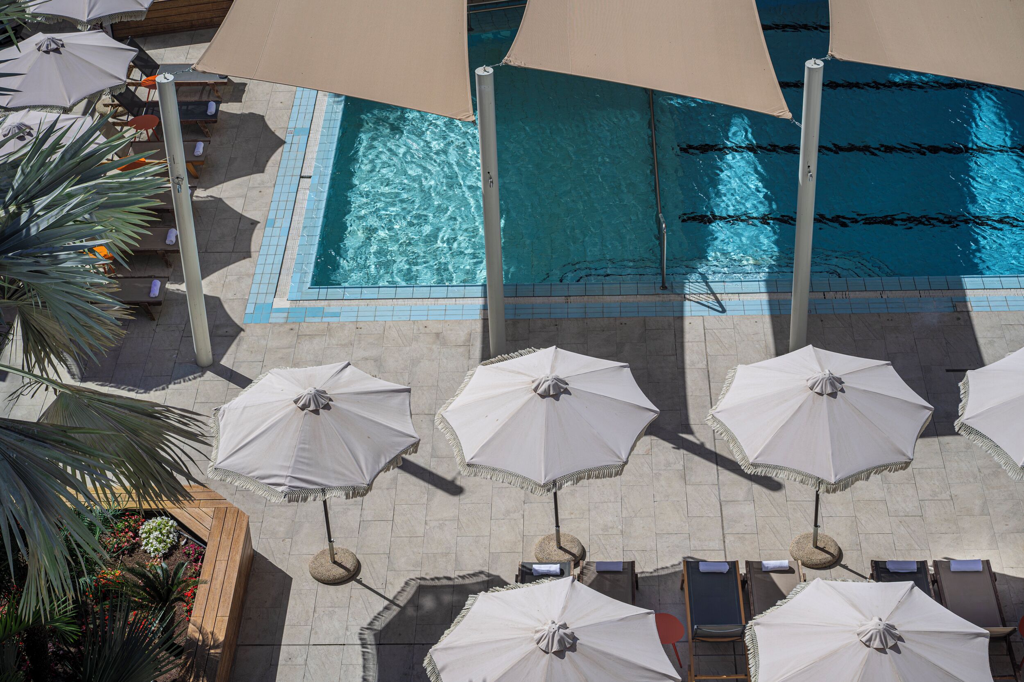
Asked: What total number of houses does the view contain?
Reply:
0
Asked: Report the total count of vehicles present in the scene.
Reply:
0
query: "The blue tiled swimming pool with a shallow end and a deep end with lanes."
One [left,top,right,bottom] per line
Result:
[243,4,1024,323]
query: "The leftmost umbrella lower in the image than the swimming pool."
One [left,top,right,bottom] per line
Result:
[206,362,420,587]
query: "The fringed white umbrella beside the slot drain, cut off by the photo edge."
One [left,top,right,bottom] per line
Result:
[950,351,1024,481]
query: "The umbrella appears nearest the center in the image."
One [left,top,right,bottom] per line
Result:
[432,346,659,569]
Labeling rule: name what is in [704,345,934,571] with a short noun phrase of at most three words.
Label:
umbrella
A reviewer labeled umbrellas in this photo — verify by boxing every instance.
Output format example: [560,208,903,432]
[950,351,1024,481]
[417,577,682,682]
[432,346,659,569]
[21,0,161,35]
[741,578,994,682]
[704,345,934,571]
[0,28,138,116]
[206,362,420,587]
